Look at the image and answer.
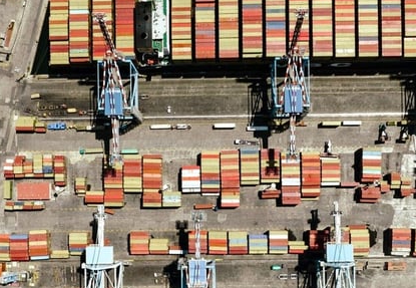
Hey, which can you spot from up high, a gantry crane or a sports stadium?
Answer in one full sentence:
There is a gantry crane in the scene.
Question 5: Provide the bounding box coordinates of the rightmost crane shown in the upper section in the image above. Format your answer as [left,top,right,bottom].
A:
[268,9,314,161]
